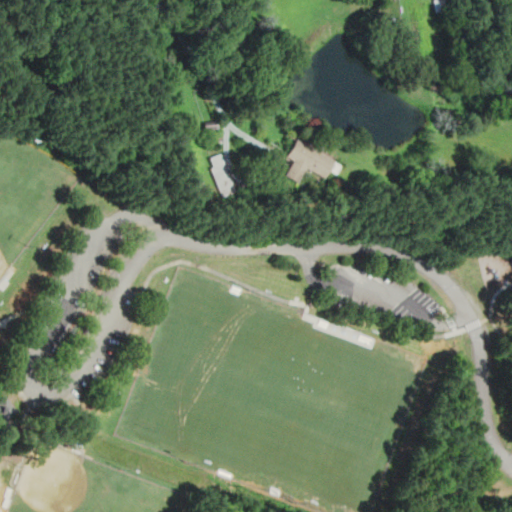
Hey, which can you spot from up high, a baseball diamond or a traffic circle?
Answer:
baseball diamond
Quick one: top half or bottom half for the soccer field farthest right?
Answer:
bottom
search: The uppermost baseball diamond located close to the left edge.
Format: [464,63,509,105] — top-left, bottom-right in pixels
[0,140,76,282]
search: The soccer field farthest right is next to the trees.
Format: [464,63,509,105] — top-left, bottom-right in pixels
[117,267,420,512]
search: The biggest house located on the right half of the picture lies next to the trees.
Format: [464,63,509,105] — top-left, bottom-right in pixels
[286,140,336,186]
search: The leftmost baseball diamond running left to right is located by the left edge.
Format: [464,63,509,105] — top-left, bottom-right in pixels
[7,446,172,512]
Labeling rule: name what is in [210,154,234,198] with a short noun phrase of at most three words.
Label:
house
